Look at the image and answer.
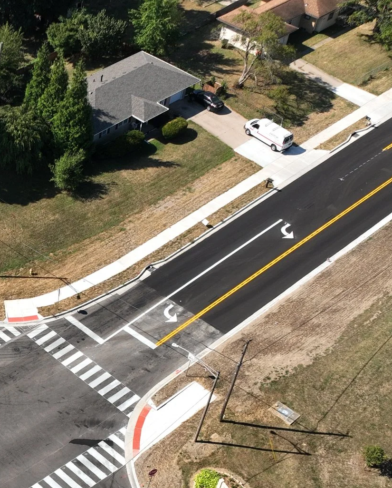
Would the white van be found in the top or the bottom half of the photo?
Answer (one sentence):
The white van sits in the top half of the picture.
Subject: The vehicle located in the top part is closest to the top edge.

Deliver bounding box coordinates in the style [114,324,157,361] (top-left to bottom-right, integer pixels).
[191,93,224,110]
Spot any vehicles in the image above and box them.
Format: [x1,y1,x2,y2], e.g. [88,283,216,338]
[244,121,293,153]
[191,93,224,110]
